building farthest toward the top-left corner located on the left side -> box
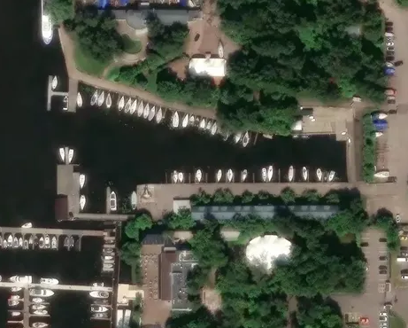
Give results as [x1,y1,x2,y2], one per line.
[112,9,205,34]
